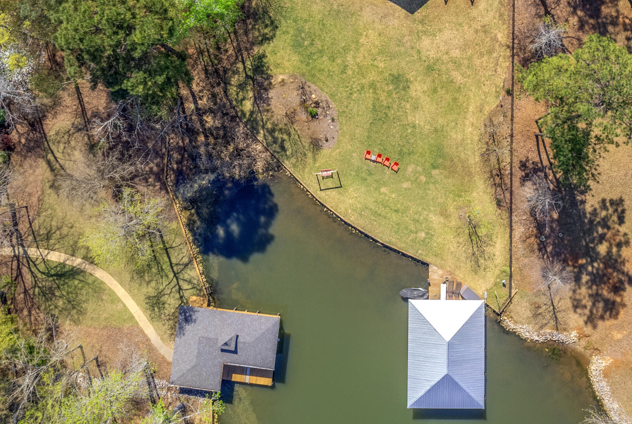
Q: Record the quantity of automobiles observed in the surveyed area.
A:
0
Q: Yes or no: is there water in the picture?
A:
Yes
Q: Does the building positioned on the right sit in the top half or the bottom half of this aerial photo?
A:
bottom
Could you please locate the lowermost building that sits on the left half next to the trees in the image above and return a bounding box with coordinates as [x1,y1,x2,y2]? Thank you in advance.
[169,296,282,392]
